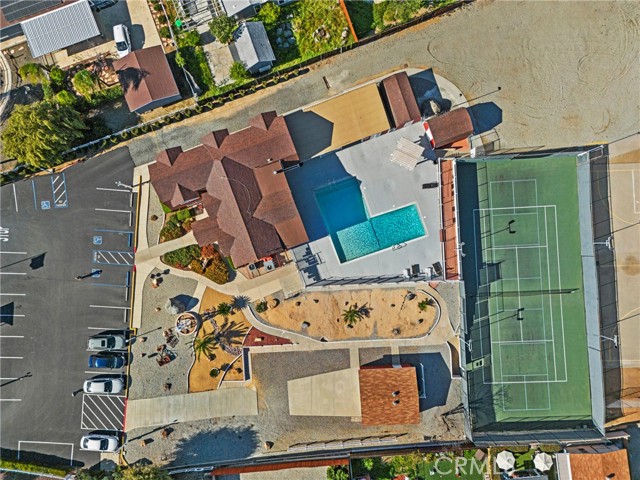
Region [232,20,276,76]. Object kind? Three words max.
house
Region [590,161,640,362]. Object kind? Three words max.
basketball court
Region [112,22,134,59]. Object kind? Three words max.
car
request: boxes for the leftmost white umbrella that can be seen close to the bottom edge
[496,450,515,469]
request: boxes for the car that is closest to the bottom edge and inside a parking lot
[81,432,120,451]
